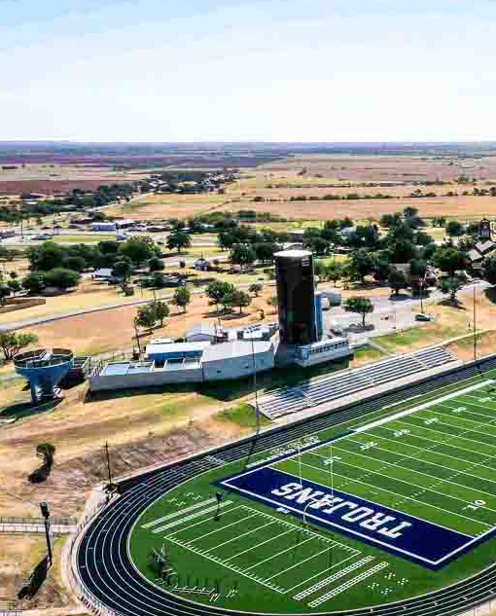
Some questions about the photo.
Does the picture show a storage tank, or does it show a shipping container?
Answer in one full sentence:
It is a storage tank that can be seen here.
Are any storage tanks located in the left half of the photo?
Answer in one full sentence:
Yes, a storage tank appears in the left half of the photo.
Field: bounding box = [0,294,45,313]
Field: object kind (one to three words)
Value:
building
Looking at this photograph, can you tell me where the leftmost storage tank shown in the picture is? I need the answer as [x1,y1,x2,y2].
[13,348,75,409]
